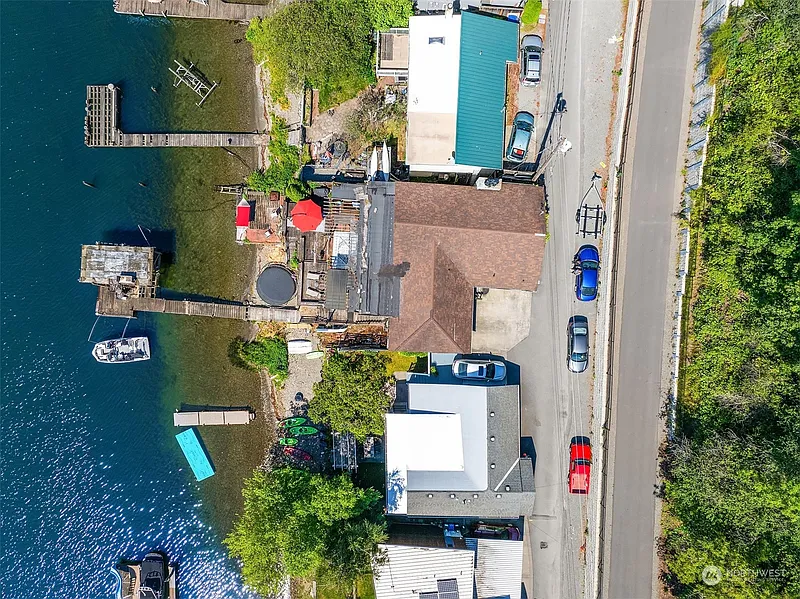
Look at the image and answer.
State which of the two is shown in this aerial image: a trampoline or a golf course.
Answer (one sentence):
Visible in the photo is a trampoline.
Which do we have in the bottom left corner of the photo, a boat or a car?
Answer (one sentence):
The one visible in the bottom left corner of the photo is a boat.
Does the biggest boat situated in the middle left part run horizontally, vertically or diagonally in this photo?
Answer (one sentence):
Seen from above, the biggest boat situated in the middle left part lies horizontally.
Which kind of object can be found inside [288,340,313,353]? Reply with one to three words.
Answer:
boat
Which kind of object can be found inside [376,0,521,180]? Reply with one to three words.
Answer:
house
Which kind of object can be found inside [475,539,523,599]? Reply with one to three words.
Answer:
building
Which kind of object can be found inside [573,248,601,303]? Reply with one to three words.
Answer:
car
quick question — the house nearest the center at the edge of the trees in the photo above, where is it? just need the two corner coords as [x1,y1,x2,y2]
[332,180,547,356]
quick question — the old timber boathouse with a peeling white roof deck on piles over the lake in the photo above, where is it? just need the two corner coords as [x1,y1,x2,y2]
[79,244,302,322]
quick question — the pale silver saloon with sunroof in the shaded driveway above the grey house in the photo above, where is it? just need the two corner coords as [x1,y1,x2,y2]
[451,357,507,383]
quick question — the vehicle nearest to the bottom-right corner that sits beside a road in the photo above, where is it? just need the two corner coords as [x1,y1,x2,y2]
[565,440,591,495]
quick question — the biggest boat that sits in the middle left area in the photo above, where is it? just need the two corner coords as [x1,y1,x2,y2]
[91,336,155,362]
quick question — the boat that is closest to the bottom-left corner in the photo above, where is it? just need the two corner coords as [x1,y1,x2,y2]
[113,559,141,599]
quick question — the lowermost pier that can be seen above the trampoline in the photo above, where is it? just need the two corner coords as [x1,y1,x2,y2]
[82,86,271,155]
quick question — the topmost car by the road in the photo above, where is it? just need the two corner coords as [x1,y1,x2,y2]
[519,35,546,92]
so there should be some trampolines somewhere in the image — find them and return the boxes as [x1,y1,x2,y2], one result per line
[255,264,297,305]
